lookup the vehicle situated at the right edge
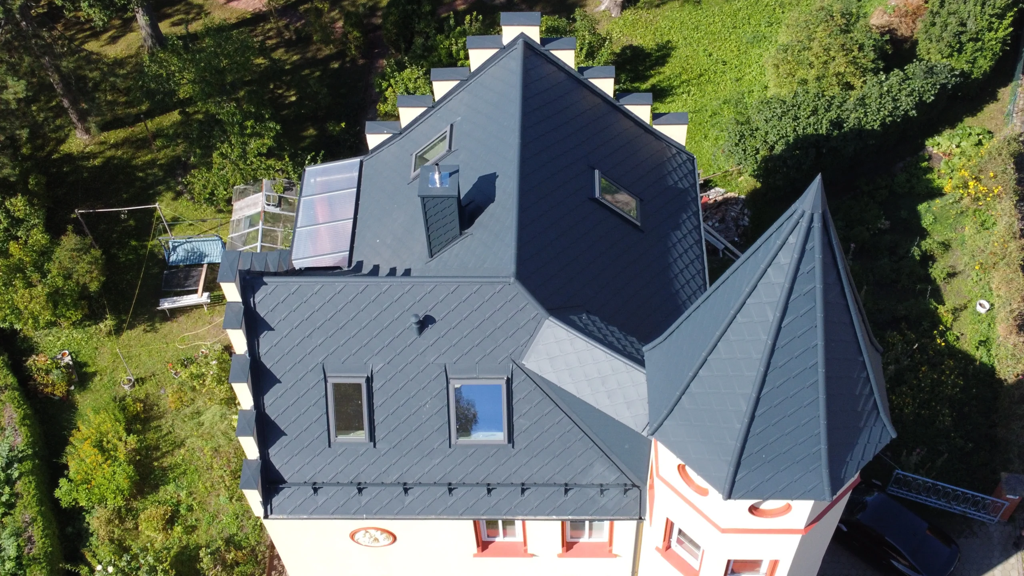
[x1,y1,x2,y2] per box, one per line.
[827,484,988,576]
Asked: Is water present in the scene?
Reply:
No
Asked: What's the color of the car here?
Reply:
black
